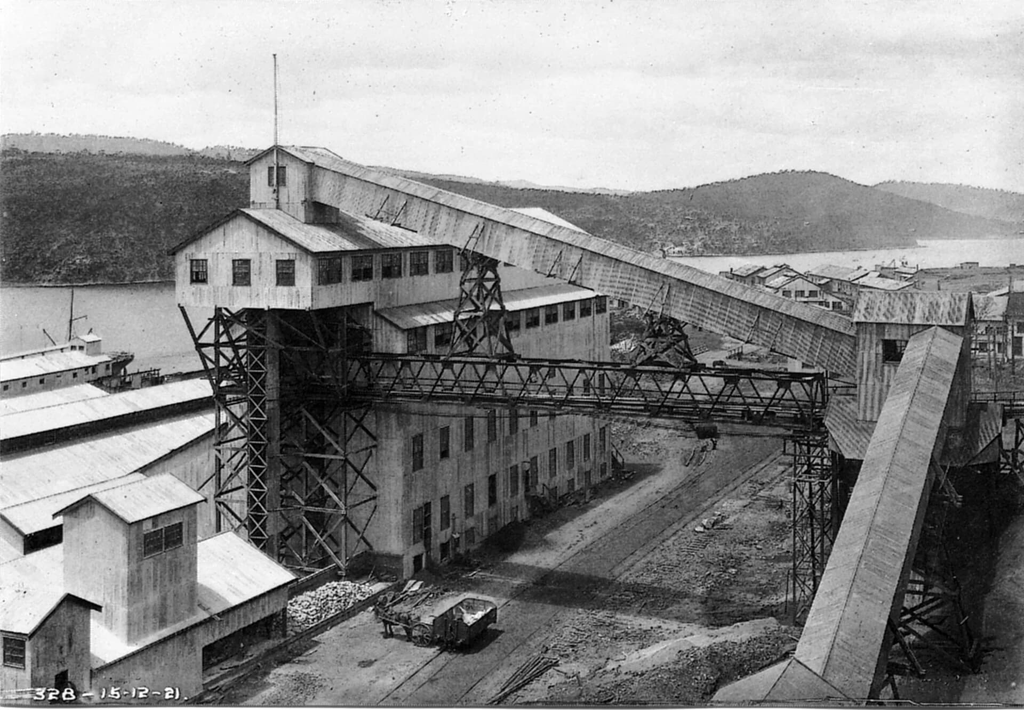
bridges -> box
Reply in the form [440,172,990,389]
[318,349,827,433]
